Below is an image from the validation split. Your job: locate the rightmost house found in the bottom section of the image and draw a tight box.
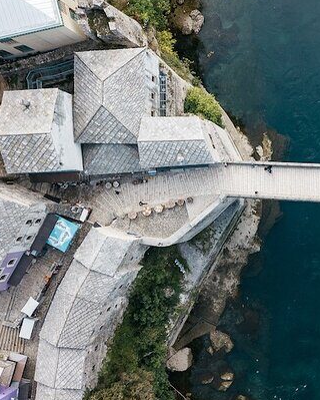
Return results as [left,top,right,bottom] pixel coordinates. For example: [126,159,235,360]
[33,227,150,400]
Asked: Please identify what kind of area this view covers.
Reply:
residential area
